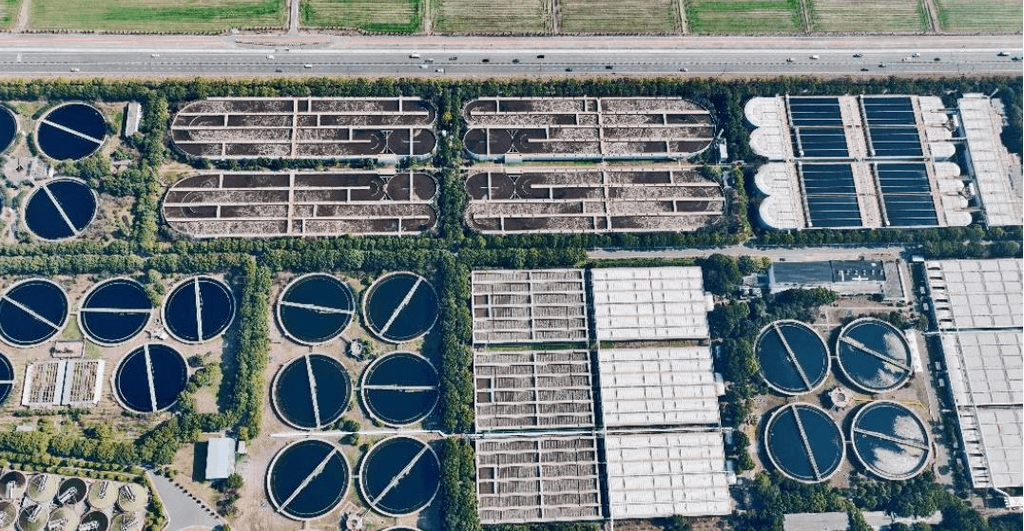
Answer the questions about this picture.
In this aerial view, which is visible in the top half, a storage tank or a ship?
storage tank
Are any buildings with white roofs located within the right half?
Yes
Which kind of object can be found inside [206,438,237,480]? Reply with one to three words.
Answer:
shed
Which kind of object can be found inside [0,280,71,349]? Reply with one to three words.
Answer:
storage tank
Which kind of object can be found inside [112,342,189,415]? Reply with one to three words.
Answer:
storage tank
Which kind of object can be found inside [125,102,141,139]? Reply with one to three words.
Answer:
building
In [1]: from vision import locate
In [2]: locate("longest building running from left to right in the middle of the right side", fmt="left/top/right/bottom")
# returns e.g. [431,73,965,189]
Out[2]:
[767,261,886,296]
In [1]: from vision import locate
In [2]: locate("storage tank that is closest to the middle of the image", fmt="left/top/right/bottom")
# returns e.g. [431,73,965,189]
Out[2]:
[363,271,440,345]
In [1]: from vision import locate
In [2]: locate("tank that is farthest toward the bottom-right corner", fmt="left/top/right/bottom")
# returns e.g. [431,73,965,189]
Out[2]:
[849,400,932,482]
